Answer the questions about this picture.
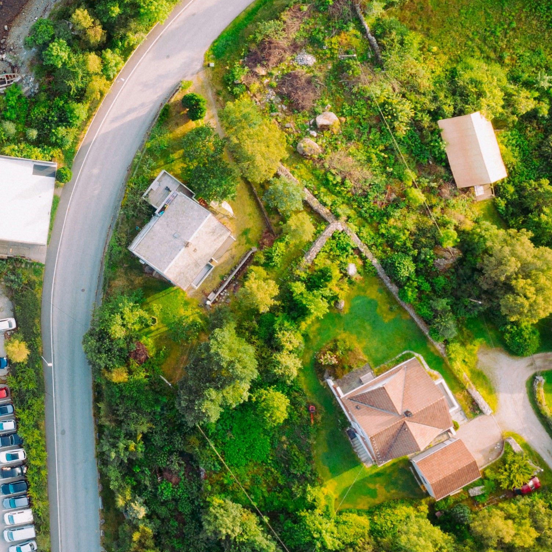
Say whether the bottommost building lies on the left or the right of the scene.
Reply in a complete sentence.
The bottommost building is on the right side of the image.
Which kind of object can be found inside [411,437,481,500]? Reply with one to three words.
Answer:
building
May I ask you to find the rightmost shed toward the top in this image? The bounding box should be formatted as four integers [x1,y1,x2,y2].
[433,111,507,201]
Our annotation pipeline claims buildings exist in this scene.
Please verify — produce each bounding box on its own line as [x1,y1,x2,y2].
[433,111,507,201]
[0,155,58,263]
[128,170,251,291]
[322,356,461,466]
[411,437,481,500]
